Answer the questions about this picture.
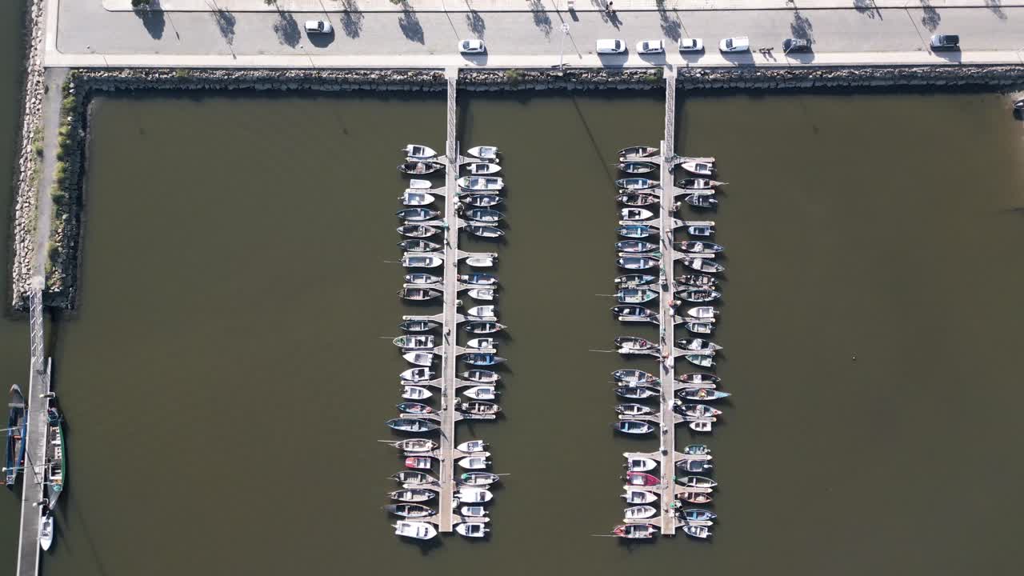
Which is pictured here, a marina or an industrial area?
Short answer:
marina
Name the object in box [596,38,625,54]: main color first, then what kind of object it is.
white vehicle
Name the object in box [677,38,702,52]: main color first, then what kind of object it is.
white car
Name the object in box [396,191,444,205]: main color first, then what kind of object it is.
white boat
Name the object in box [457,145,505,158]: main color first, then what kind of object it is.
white boat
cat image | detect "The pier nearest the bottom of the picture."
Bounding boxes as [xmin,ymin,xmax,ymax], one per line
[17,356,53,576]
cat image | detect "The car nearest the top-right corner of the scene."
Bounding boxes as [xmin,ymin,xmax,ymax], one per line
[929,34,960,49]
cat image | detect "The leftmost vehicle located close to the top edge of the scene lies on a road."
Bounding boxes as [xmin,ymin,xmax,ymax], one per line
[305,19,333,35]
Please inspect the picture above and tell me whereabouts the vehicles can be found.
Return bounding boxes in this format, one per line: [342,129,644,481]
[459,39,486,54]
[305,19,333,35]
[596,38,625,54]
[637,40,665,54]
[677,38,702,52]
[929,34,960,49]
[781,38,811,53]
[718,37,750,52]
